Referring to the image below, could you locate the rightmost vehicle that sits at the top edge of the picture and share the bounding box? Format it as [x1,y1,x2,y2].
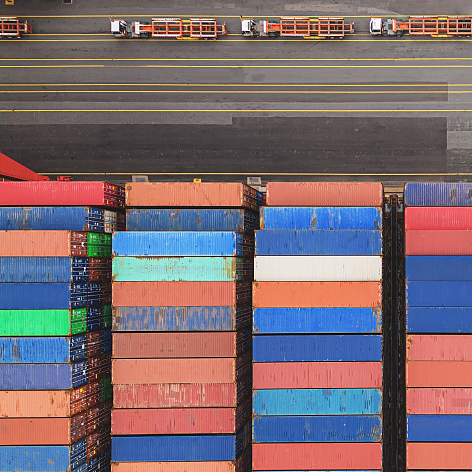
[371,14,472,38]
